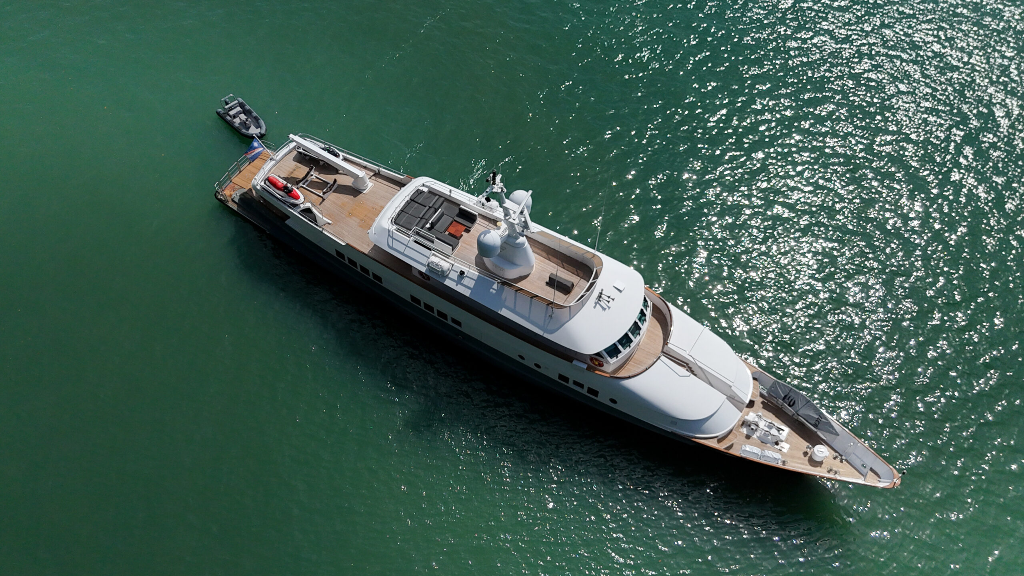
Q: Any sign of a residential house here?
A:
No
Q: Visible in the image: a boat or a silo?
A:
boat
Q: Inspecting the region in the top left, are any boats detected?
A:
Yes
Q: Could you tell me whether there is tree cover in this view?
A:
No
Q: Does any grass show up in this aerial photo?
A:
No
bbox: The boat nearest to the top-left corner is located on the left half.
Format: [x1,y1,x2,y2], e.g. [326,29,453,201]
[219,92,266,139]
